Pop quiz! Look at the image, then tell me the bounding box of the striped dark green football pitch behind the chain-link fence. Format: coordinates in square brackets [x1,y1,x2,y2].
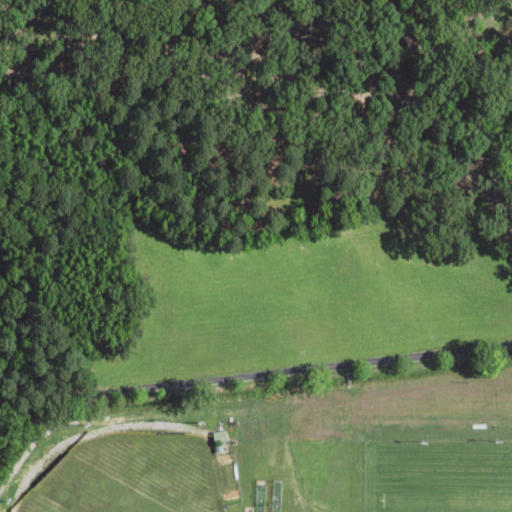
[366,442,512,512]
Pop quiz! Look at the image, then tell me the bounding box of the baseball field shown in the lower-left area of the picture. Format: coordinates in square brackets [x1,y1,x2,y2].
[10,422,225,512]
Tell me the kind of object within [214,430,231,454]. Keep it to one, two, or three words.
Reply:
building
